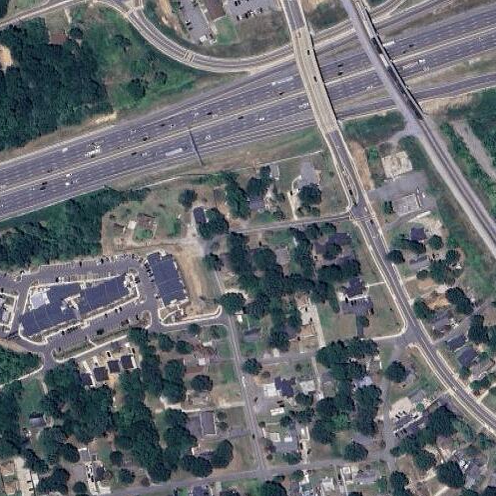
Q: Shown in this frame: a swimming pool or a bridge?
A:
bridge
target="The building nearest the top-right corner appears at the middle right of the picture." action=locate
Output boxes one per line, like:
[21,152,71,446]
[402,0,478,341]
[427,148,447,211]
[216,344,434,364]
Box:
[393,190,425,217]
